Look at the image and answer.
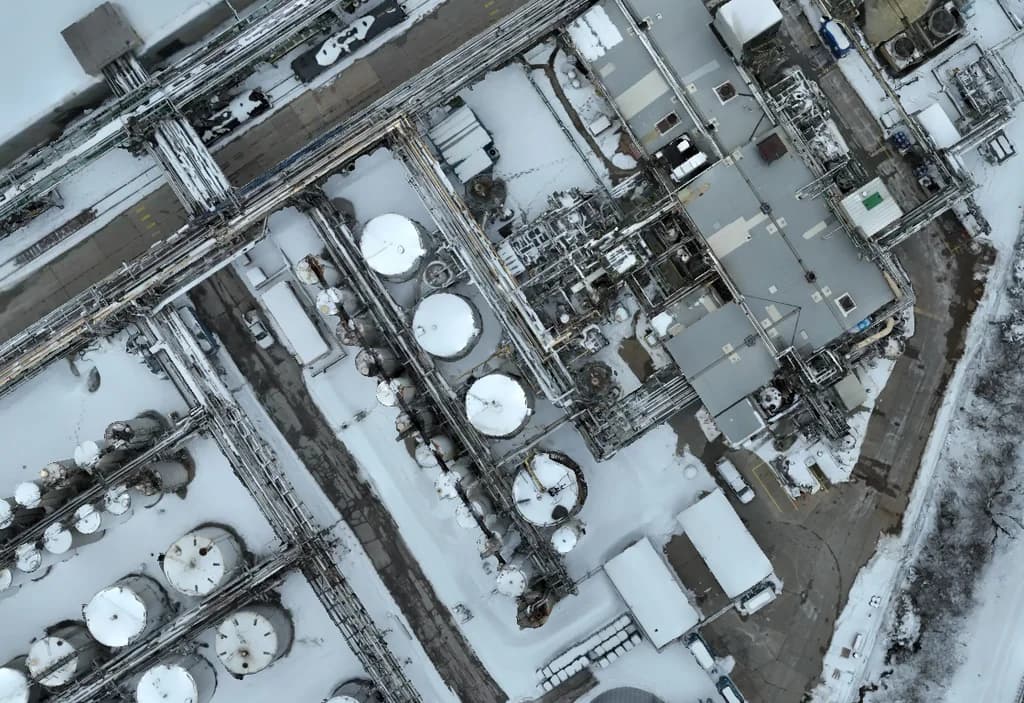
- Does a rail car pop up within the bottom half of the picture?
No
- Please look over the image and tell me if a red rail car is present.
No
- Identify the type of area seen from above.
industrial area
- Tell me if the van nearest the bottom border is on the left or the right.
right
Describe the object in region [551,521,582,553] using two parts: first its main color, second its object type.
white storage tank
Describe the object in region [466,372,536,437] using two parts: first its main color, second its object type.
white storage tank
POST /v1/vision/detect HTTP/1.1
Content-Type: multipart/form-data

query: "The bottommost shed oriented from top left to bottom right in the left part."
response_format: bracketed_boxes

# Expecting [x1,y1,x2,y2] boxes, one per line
[262,282,333,365]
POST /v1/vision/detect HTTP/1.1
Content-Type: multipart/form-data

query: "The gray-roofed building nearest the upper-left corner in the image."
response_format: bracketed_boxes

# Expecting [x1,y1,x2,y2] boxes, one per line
[61,2,148,78]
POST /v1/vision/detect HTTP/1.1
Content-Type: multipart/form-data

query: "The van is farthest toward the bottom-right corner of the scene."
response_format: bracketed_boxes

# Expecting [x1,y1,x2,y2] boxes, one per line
[713,671,748,703]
